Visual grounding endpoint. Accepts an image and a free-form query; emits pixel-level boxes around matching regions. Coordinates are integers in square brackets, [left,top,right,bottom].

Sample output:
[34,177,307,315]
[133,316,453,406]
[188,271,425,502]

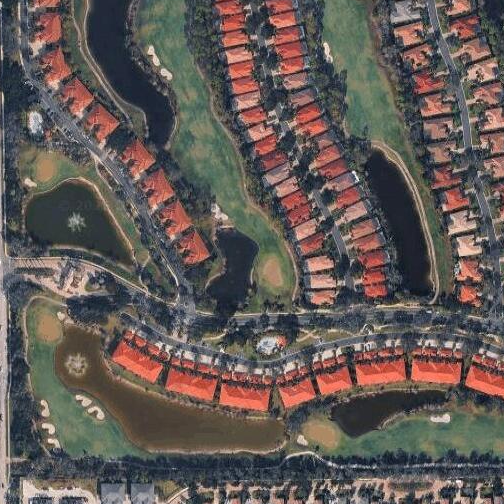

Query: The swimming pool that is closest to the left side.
[28,110,43,134]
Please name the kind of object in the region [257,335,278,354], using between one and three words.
swimming pool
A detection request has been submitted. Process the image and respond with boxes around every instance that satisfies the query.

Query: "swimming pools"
[257,335,278,354]
[28,110,43,134]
